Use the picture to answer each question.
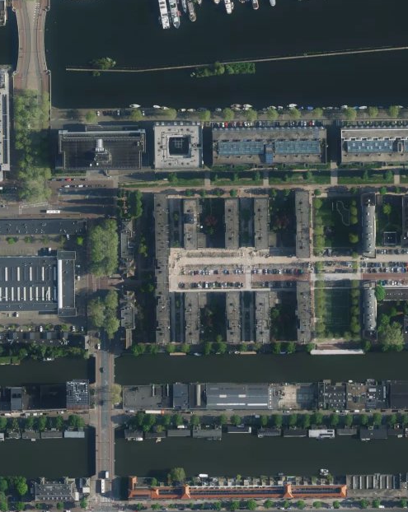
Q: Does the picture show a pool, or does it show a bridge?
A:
bridge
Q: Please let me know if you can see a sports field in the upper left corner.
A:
No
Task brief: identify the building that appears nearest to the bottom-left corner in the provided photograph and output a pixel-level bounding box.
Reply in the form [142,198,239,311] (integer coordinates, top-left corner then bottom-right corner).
[31,477,79,502]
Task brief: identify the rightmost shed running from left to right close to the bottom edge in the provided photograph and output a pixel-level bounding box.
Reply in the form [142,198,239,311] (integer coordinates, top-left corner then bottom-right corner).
[347,474,406,498]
